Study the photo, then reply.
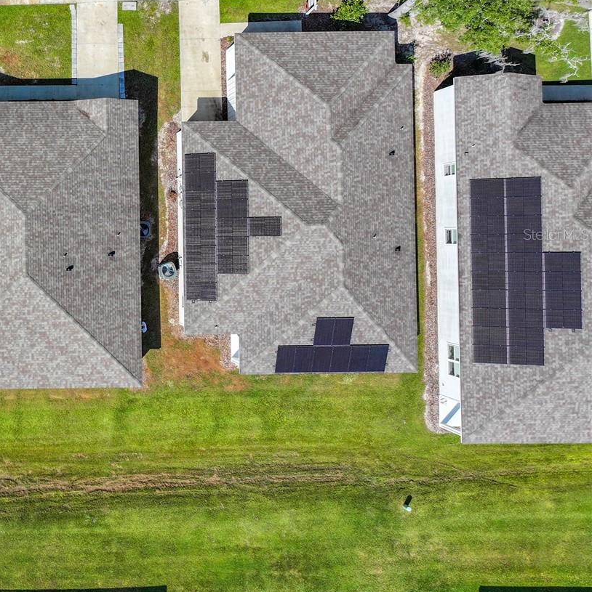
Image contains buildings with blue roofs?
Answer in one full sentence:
No, I can see no building with a blue roof in this picture.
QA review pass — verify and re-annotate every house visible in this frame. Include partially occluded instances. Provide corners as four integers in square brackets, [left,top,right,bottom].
[178,30,418,376]
[0,98,143,389]
[437,75,592,447]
